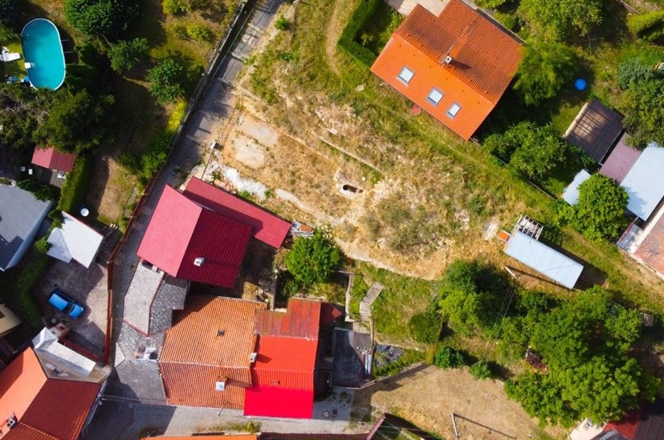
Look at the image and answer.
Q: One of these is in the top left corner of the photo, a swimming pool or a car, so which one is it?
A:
swimming pool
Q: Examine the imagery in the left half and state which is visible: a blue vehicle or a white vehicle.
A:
blue vehicle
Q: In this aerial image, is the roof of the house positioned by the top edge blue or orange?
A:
orange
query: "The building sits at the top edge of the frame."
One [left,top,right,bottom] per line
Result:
[370,0,526,142]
